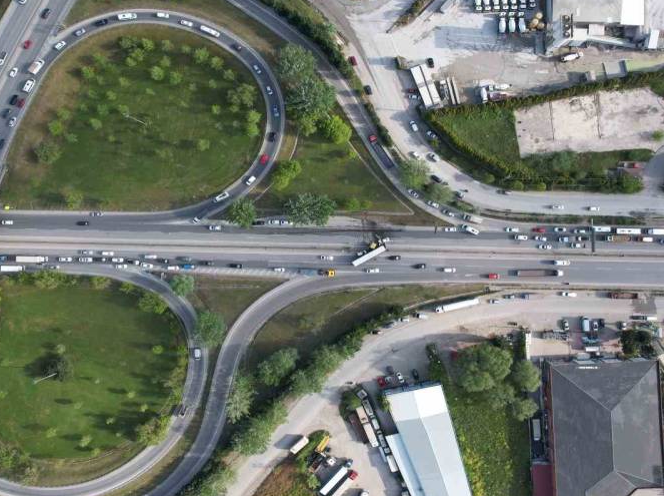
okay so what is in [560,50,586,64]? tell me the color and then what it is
white vehicle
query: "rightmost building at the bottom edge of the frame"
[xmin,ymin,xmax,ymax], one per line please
[541,355,664,496]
